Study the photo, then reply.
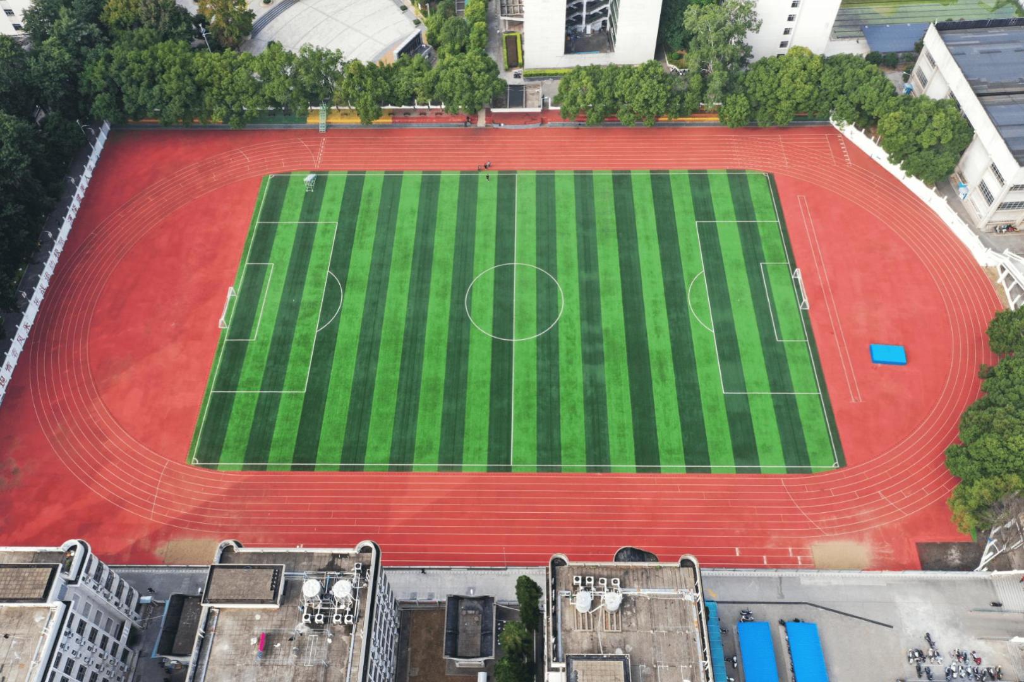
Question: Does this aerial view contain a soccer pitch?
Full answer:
Yes, there's a soccer pitch down there.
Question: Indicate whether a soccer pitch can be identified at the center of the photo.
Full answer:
Yes, you'll find a soccer pitch at the center of the photo.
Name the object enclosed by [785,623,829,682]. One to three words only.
shed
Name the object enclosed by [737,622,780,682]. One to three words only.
shed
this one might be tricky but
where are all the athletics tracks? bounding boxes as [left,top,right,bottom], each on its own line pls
[0,127,1010,569]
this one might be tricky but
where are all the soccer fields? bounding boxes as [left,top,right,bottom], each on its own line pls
[184,169,847,474]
